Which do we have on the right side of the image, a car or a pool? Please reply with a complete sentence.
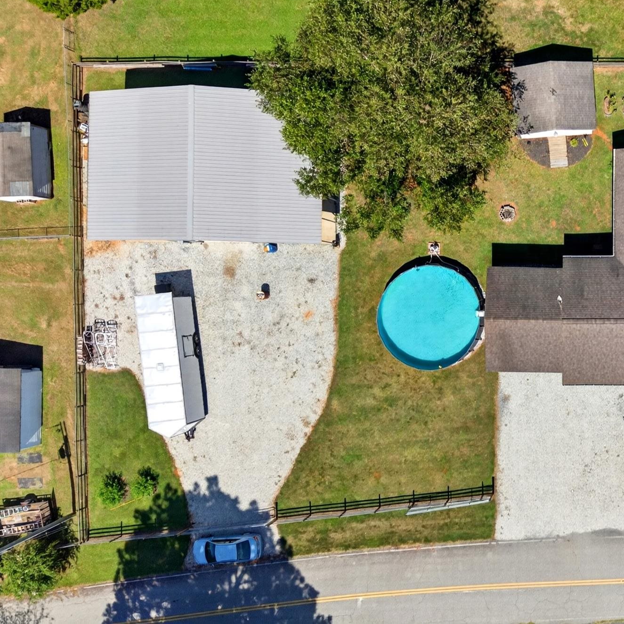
Visible on the right side of the image is a pool.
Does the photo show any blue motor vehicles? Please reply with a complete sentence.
Yes, I can see a blue motor vehicle in this picture.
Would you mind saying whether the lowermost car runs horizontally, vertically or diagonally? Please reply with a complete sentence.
The lowermost car has been laid out horizontally relative to the frame.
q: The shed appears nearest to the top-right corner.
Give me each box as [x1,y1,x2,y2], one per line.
[516,60,596,139]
